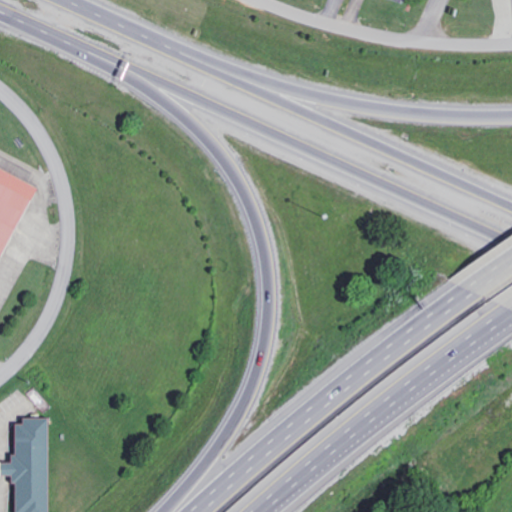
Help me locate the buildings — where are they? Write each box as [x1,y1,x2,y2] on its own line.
[0,418,48,512]
[0,168,37,258]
